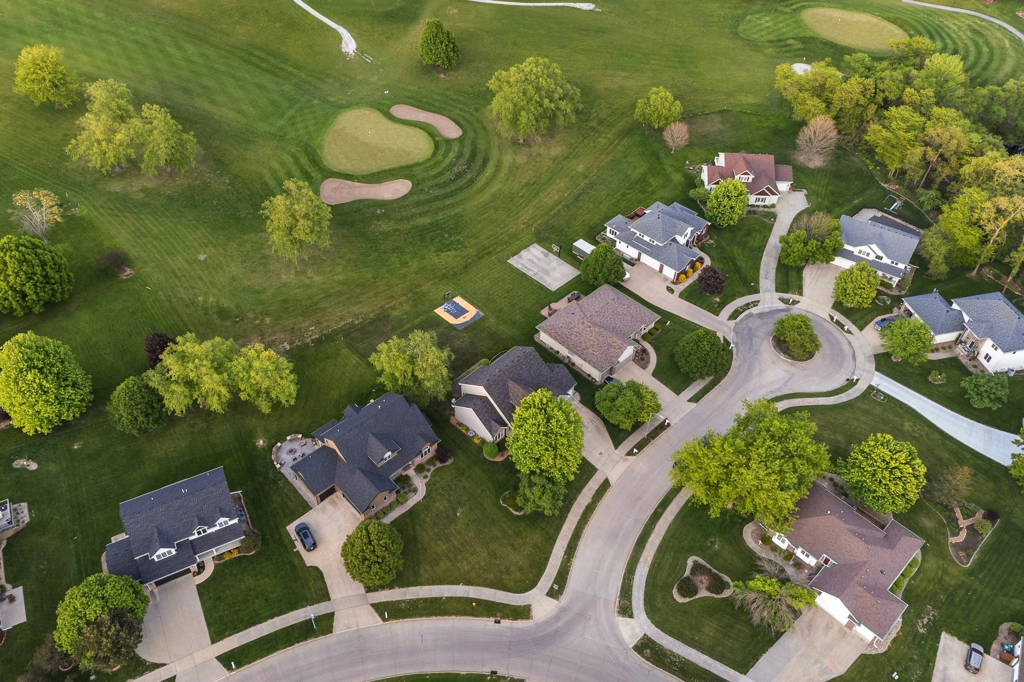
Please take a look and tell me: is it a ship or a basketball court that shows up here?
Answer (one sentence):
It is a basketball court that can be seen here.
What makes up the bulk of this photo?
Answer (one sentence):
For the most part, this view shows grass.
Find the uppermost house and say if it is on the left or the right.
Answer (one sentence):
The uppermost house sits on the right side.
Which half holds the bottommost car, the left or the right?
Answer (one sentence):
The bottommost car sits on the right side.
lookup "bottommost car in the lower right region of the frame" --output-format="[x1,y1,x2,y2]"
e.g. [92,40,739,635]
[963,640,987,678]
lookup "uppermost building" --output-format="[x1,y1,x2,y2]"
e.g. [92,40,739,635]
[704,148,794,209]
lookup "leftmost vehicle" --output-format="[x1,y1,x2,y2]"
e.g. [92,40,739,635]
[295,522,318,554]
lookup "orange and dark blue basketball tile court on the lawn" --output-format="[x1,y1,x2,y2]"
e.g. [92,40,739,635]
[434,296,484,330]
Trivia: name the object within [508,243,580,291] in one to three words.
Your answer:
basketball court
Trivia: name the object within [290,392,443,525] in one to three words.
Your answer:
house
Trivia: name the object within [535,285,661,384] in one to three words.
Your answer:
house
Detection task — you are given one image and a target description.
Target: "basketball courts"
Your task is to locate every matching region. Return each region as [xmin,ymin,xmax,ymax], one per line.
[508,243,580,291]
[434,296,484,330]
